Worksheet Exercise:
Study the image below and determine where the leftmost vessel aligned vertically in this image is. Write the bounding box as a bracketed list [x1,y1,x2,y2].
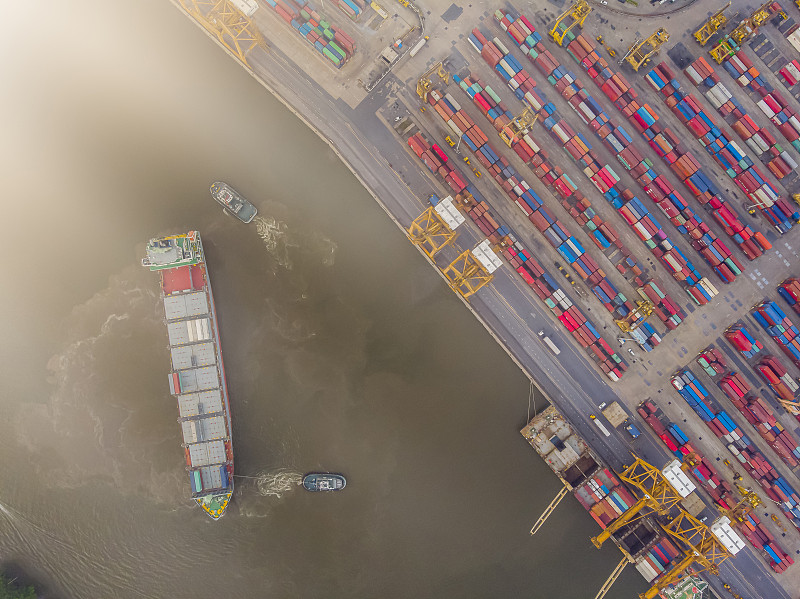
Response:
[145,232,234,521]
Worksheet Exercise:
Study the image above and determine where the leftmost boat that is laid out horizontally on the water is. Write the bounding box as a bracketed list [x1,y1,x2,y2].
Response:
[302,472,348,492]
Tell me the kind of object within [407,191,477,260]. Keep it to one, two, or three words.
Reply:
container crane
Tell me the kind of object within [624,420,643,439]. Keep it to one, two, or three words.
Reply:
vehicle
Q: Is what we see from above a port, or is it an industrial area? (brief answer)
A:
port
